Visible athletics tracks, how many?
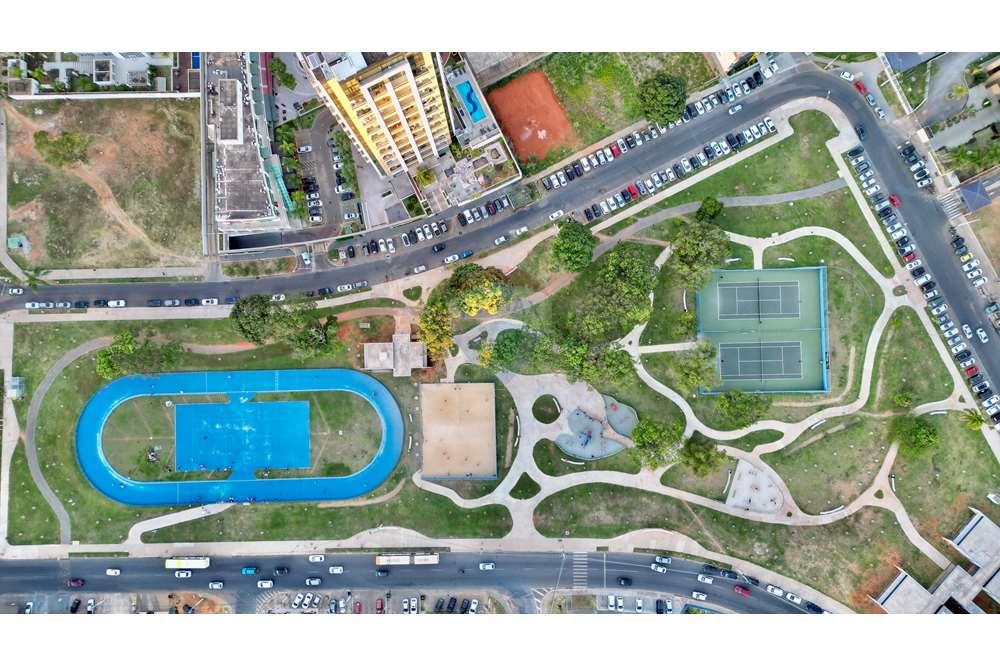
1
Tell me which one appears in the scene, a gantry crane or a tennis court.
tennis court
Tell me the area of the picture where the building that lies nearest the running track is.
center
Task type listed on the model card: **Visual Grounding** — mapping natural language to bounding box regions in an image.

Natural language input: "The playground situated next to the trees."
[553,394,640,461]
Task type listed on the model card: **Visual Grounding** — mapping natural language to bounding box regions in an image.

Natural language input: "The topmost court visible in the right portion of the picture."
[718,277,800,323]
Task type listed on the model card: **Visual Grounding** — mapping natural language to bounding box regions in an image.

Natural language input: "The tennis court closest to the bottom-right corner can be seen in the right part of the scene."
[720,339,803,383]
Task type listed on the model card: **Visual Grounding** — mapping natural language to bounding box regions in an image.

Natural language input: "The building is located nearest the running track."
[361,334,427,377]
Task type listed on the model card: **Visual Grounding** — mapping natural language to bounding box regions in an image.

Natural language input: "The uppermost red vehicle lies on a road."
[853,80,867,96]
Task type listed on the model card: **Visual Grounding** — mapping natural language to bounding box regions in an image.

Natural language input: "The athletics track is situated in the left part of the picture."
[74,367,404,507]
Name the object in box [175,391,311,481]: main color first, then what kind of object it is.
blue sports court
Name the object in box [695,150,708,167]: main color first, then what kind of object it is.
white vehicle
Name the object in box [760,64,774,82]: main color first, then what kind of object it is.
white vehicle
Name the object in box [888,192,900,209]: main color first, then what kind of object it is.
red vehicle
